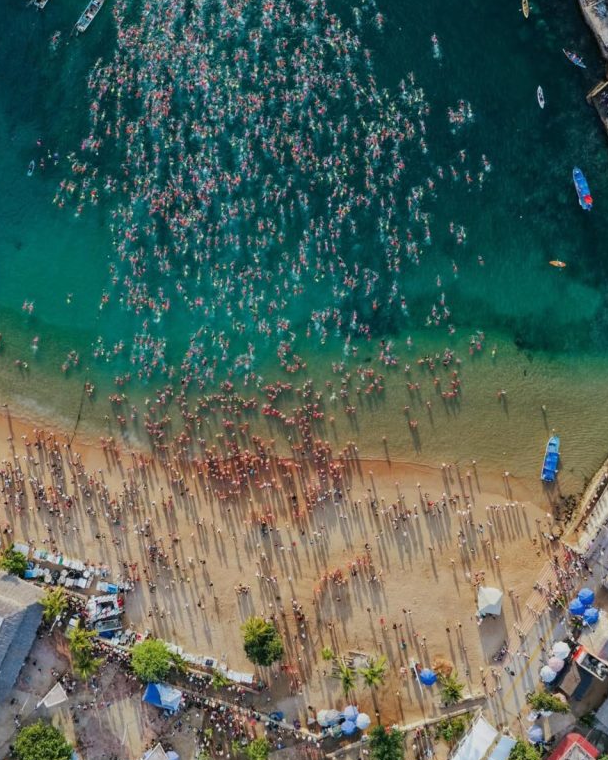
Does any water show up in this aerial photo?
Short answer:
Yes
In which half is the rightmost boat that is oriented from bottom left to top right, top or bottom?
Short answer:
top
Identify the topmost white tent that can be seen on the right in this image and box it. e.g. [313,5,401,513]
[476,583,502,612]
